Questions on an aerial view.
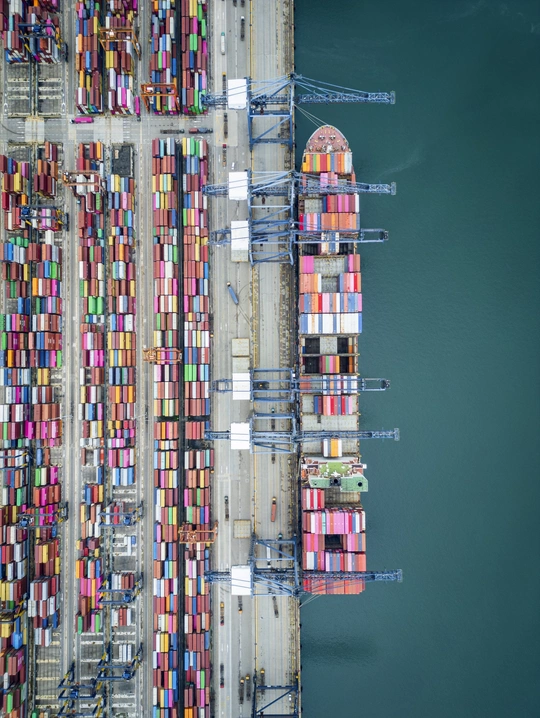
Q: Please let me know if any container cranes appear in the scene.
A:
Yes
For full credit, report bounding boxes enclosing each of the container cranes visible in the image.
[60,171,109,201]
[205,532,402,596]
[98,499,146,527]
[142,83,187,118]
[20,22,72,62]
[179,515,221,544]
[203,166,396,228]
[248,675,299,718]
[209,365,390,403]
[205,409,400,452]
[210,218,388,272]
[99,27,146,67]
[59,687,105,718]
[98,571,146,605]
[98,642,146,682]
[20,204,71,233]
[203,69,395,149]
[142,346,190,367]
[60,661,105,703]
[0,447,34,470]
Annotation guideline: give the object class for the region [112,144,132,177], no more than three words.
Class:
shed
